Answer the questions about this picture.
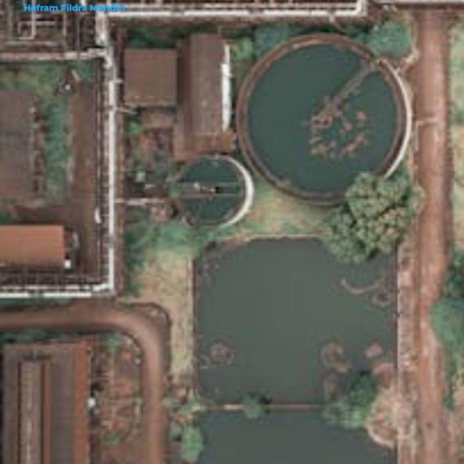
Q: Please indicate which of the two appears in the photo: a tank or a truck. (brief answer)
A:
tank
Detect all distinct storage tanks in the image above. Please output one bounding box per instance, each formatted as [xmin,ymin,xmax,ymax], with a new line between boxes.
[238,33,420,202]
[178,155,257,227]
